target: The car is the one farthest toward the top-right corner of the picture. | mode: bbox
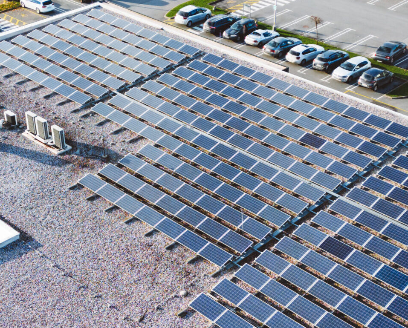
[376,39,408,62]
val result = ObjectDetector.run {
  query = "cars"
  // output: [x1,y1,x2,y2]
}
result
[247,27,283,46]
[265,34,306,55]
[361,65,399,88]
[180,4,214,24]
[314,46,355,70]
[334,54,374,80]
[226,16,262,39]
[205,13,244,33]
[376,39,408,62]
[290,42,327,63]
